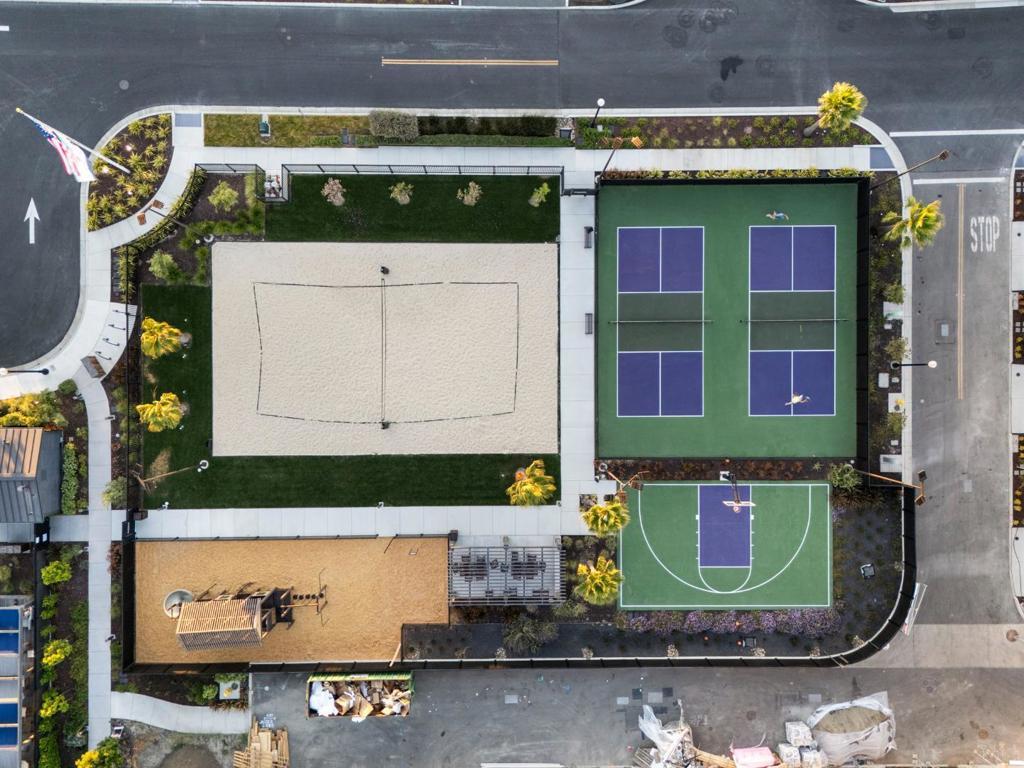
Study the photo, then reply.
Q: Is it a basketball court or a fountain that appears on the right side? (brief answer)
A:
basketball court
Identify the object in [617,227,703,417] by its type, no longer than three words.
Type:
sports court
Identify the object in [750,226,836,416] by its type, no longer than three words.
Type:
sports court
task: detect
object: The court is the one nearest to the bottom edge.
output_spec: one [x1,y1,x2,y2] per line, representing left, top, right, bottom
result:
[618,481,832,609]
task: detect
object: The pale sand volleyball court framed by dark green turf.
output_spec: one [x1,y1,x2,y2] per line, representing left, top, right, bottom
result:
[210,240,560,457]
